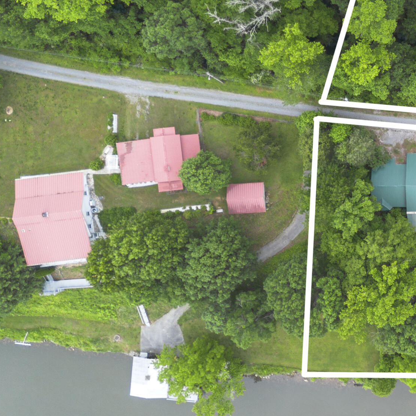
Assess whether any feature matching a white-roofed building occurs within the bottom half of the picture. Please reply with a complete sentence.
Yes, a white-roofed building is visible within the bottom half of the picture.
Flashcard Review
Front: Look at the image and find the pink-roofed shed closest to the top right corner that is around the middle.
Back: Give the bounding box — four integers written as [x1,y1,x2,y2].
[227,182,267,213]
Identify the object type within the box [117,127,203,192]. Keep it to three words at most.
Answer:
house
